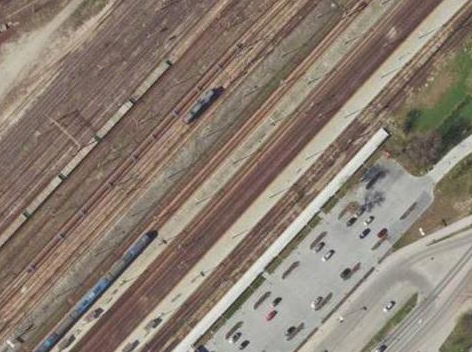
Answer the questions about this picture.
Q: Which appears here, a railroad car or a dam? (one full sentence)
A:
The image shows a railroad car.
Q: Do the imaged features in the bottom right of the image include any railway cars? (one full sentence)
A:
No, no railway car is visible in the bottom right of the image.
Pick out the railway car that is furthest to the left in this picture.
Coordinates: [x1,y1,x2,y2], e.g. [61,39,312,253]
[0,213,30,253]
